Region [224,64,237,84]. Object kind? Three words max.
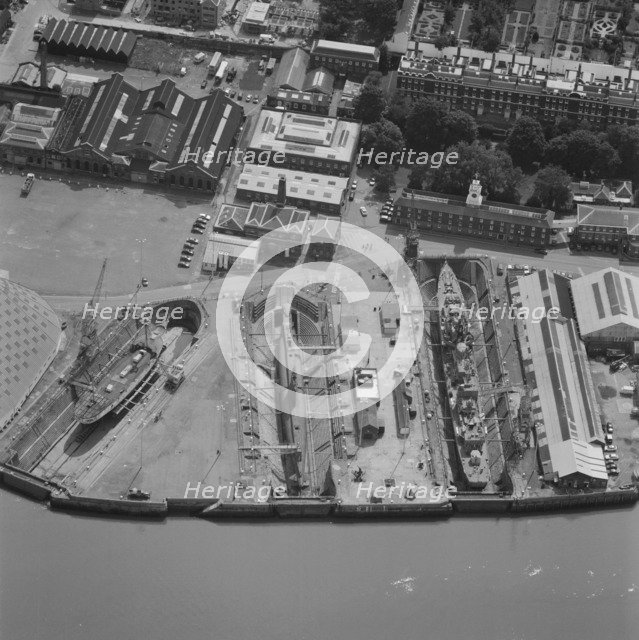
vehicle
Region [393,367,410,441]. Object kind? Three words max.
shed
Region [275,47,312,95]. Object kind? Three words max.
building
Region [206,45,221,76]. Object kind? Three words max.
vehicle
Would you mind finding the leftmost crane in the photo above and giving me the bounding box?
[69,261,106,372]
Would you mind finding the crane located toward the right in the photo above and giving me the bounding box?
[401,199,425,271]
